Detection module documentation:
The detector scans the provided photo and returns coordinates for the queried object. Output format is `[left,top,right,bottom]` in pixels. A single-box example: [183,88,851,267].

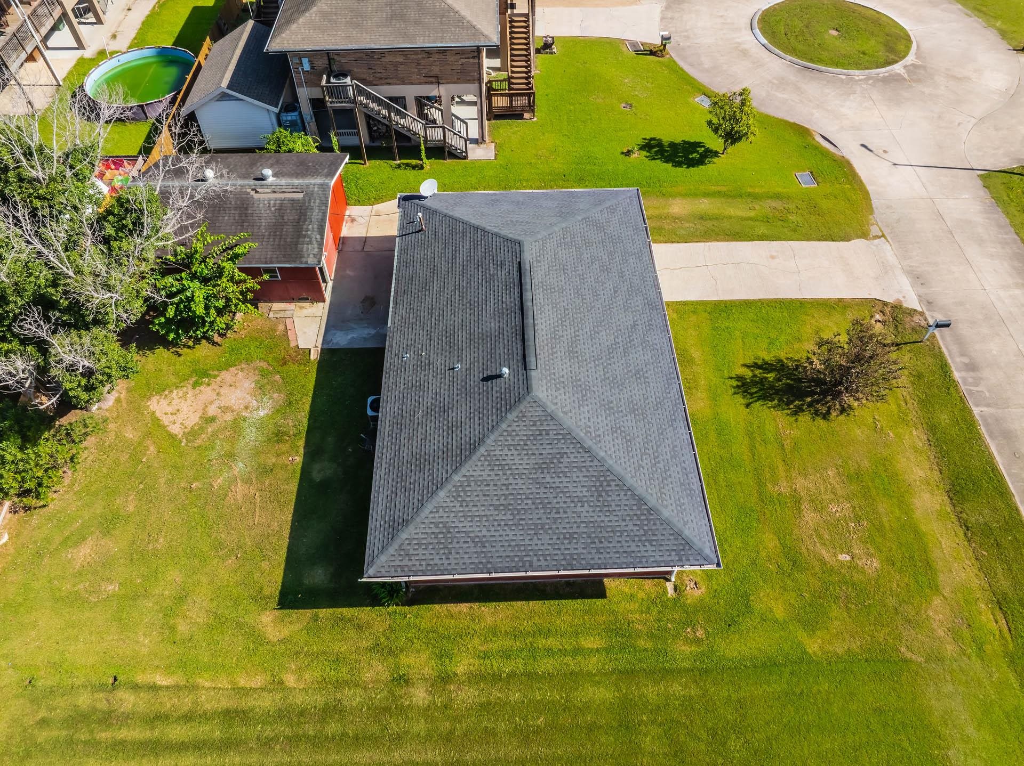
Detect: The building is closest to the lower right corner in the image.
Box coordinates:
[363,187,722,593]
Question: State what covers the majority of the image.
grass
